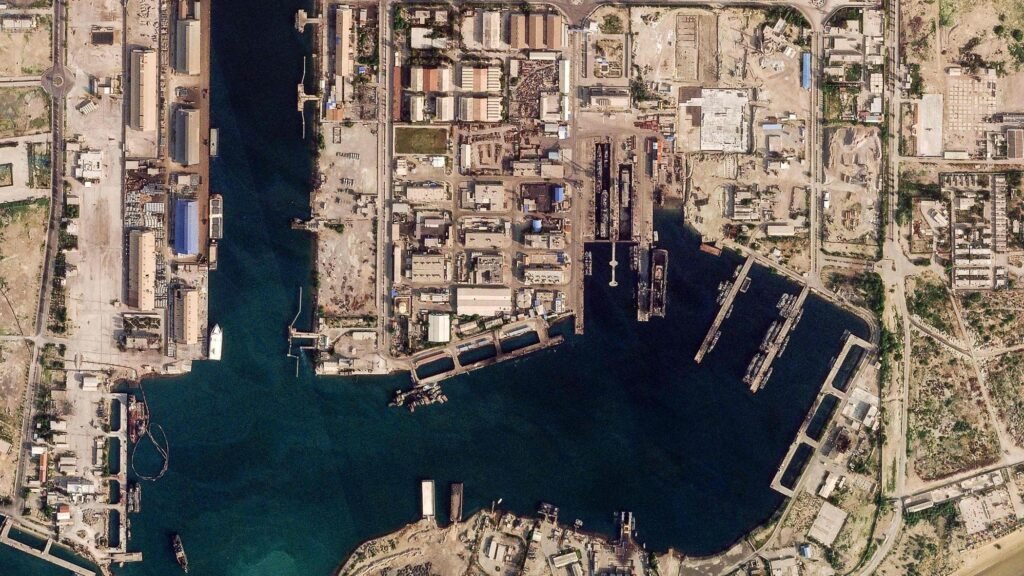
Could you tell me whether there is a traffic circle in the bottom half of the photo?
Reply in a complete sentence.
No, there's no traffic circle to be seen in the bottom half of the photo.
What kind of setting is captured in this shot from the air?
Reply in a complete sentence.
This image shows a port.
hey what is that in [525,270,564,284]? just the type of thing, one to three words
building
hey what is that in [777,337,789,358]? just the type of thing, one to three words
boat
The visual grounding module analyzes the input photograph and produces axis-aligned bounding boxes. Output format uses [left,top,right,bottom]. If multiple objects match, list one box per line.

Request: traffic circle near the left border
[41,65,75,98]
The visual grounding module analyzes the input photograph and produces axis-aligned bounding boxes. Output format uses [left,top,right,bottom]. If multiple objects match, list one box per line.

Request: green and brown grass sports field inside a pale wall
[391,125,449,155]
